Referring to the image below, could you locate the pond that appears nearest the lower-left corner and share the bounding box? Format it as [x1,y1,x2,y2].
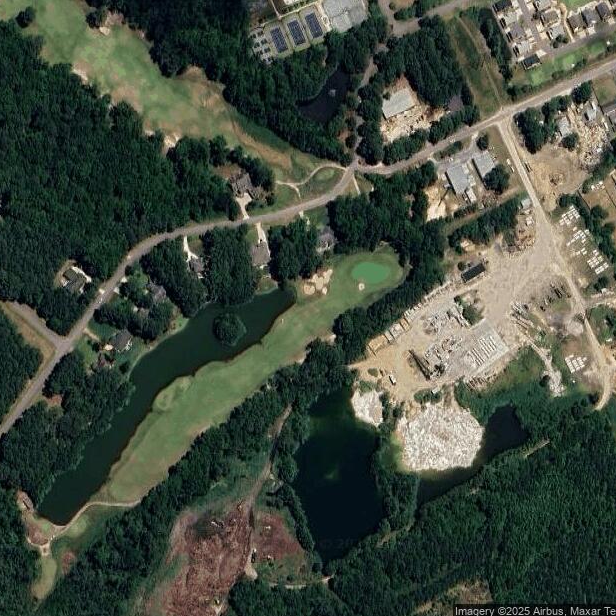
[40,288,296,526]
